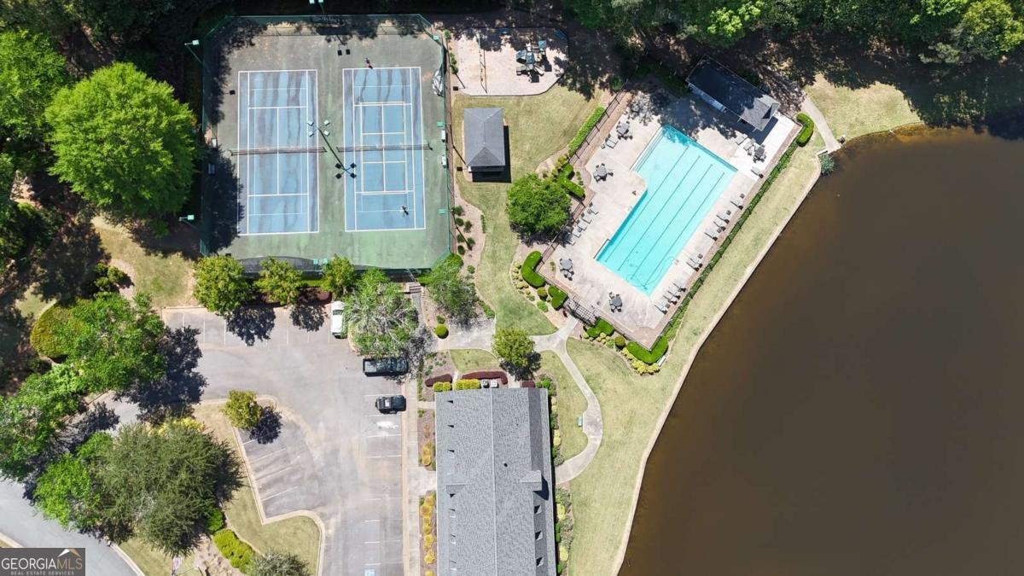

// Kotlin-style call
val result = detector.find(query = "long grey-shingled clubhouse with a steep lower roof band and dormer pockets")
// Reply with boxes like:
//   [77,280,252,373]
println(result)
[434,386,554,576]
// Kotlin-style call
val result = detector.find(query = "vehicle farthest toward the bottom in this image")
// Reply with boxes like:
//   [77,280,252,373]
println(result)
[376,395,408,411]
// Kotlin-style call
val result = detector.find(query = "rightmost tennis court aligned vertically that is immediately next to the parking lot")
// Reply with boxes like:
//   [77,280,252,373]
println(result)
[343,67,425,231]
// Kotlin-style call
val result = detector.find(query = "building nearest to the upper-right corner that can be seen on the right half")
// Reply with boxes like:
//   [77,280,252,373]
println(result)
[682,58,779,136]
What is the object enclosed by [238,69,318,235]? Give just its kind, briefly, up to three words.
tennis court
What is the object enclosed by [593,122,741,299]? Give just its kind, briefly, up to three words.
swimming pool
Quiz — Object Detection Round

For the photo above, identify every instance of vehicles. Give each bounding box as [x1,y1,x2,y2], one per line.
[376,395,408,411]
[328,302,346,339]
[364,356,408,375]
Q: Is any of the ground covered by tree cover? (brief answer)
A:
Yes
